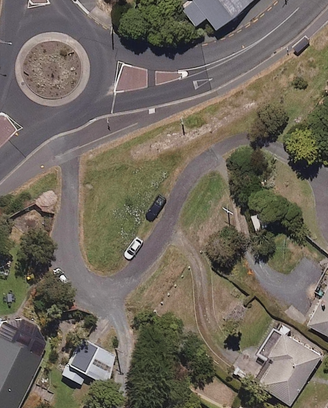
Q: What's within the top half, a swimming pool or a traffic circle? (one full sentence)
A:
You can see a traffic circle within the top half.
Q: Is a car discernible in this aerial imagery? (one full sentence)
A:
Yes, you can see a car in this photo.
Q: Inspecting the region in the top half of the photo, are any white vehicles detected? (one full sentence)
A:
No, no white vehicle is visible in the top half of the photo.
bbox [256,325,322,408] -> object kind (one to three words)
house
